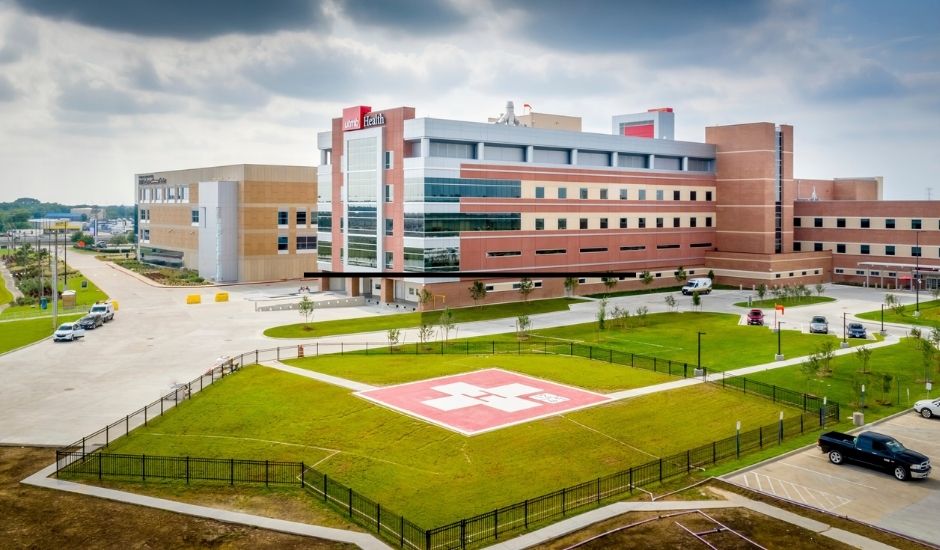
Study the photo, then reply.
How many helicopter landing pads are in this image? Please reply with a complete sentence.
Altogether the scene contains 1 helicopter landing pad.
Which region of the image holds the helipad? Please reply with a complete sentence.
The helipad is located in the bottom region of the scene.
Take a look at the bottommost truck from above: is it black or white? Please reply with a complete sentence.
The color of the bottommost truck is black.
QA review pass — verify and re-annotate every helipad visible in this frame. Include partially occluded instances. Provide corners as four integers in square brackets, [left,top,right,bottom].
[352,367,616,435]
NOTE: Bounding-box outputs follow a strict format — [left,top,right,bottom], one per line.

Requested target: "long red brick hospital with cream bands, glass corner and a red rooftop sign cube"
[318,103,940,305]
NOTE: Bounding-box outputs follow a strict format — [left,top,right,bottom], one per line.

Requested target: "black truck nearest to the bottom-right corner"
[815,432,933,481]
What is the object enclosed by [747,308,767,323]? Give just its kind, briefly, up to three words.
car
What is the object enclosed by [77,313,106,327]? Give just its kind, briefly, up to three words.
vehicle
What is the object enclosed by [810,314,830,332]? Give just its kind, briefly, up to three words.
car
